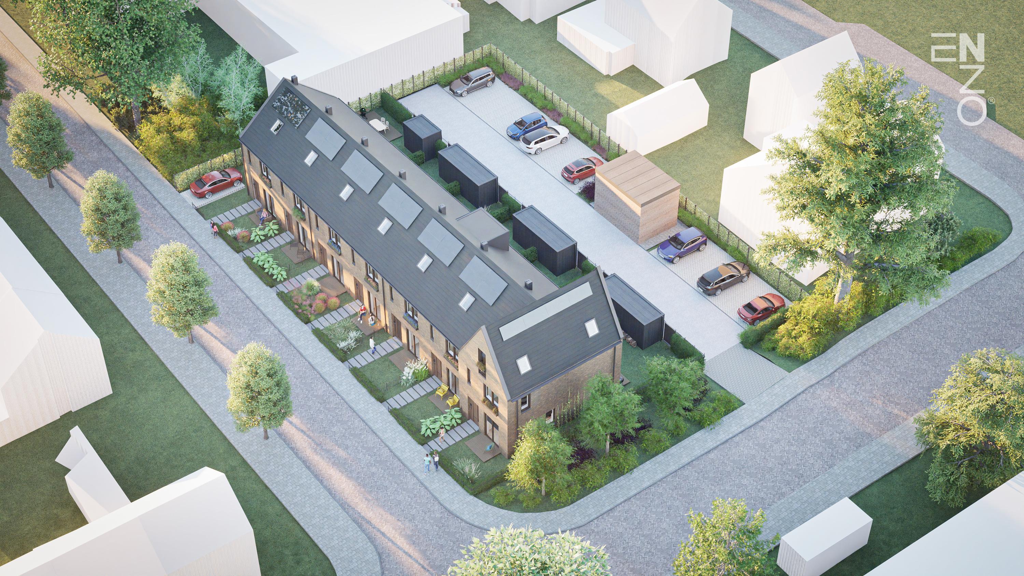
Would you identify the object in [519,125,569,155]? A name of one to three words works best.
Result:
car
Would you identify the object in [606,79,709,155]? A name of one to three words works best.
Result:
building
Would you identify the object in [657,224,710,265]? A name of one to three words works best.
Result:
car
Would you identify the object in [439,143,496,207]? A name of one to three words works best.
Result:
shed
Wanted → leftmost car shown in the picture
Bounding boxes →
[187,166,244,198]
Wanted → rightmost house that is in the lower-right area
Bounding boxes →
[864,473,1024,576]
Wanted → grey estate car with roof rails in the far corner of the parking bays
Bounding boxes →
[448,65,497,98]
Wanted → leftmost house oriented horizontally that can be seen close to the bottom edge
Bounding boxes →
[0,467,261,576]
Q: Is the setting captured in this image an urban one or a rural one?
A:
urban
